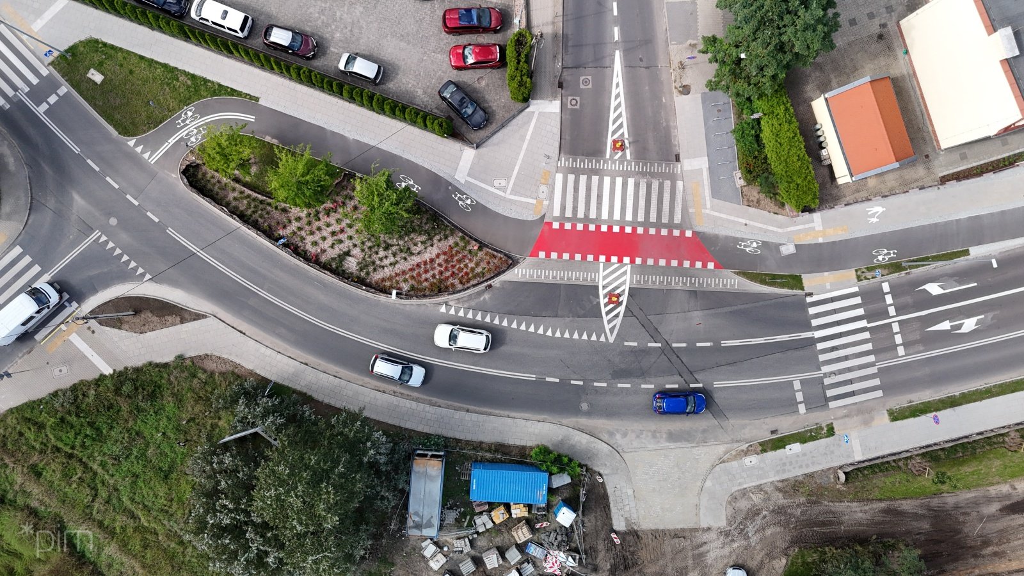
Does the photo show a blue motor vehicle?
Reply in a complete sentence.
Yes, I can see a blue motor vehicle in this picture.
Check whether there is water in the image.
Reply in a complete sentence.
No, the scene doesn't show any water.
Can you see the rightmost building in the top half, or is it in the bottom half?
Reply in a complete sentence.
You can find the rightmost building in the top half.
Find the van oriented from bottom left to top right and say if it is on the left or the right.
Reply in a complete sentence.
The van oriented from bottom left to top right sits on the left side.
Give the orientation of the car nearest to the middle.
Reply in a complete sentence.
Seen from above, the car nearest to the middle lies from left to right.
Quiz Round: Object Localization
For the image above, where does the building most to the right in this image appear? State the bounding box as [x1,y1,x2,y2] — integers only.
[899,0,1024,150]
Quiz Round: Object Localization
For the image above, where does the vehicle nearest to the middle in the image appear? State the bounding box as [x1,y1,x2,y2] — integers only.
[433,322,493,353]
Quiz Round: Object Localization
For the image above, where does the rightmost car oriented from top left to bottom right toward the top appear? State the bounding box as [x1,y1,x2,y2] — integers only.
[436,76,490,133]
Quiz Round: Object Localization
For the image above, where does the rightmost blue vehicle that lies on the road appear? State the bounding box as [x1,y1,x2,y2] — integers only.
[651,389,706,418]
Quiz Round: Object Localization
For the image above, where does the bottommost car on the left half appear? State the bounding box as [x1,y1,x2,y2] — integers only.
[367,353,426,387]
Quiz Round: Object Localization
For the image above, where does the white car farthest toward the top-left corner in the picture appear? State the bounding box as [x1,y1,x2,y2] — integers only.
[188,0,255,41]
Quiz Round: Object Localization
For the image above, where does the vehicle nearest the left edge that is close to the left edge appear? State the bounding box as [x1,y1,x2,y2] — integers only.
[0,284,66,350]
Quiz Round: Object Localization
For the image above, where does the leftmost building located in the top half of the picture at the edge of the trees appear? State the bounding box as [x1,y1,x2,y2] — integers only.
[812,71,921,184]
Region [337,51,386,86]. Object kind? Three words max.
car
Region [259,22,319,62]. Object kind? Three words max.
car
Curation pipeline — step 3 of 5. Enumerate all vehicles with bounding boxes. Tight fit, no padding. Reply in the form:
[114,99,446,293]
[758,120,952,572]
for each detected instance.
[0,284,66,350]
[448,40,504,72]
[337,51,386,86]
[442,4,502,36]
[436,76,490,133]
[259,22,319,62]
[127,0,192,23]
[188,0,255,41]
[367,353,426,387]
[651,389,706,418]
[433,322,493,353]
